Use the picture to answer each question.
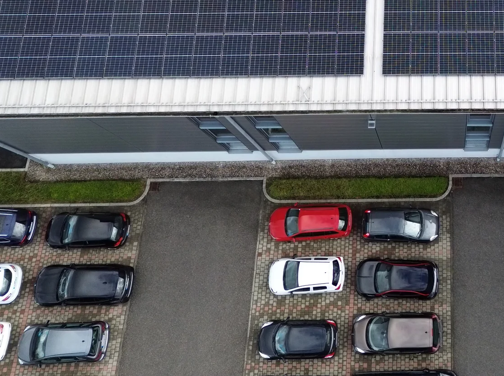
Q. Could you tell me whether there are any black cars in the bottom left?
Yes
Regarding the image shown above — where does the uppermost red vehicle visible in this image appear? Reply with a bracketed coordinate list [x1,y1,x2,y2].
[268,200,353,245]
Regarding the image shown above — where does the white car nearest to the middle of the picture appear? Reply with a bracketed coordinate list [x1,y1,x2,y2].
[267,253,346,301]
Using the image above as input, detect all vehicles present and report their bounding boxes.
[354,255,438,304]
[267,253,346,301]
[0,209,42,252]
[42,207,134,254]
[15,318,115,371]
[268,200,353,245]
[357,368,452,376]
[257,314,340,366]
[30,258,138,311]
[0,264,29,308]
[361,203,439,247]
[351,309,442,362]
